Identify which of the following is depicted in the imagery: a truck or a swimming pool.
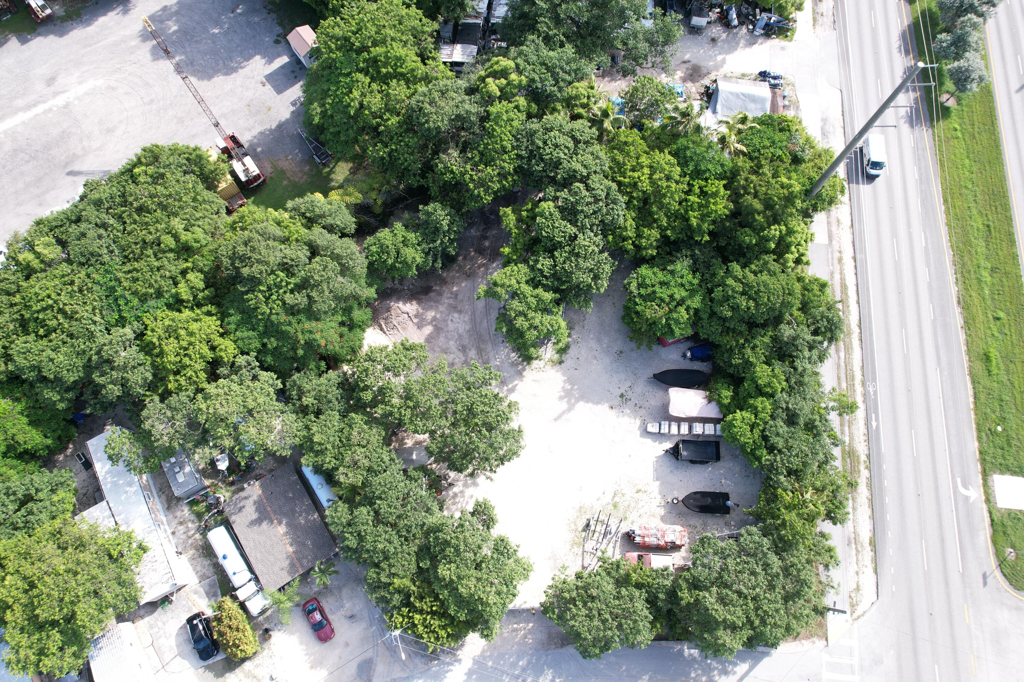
truck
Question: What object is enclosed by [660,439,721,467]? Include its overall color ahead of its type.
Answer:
black trailer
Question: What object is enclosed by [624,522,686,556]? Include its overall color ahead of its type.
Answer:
white trailer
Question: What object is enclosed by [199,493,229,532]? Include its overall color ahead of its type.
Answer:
gray work vehicle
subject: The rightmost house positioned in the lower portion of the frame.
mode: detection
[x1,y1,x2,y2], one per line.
[224,463,339,588]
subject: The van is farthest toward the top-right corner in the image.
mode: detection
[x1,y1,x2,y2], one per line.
[857,131,888,181]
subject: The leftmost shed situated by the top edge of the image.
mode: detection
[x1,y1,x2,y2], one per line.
[287,24,324,68]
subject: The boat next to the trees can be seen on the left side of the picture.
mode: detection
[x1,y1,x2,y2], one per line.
[215,454,230,478]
